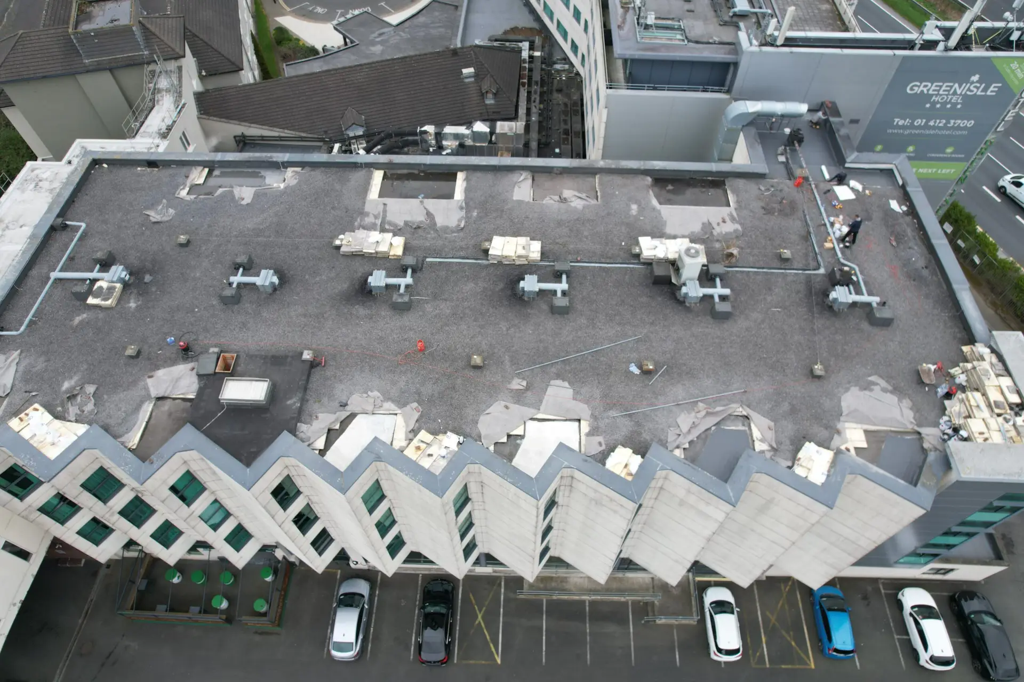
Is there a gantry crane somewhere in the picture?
No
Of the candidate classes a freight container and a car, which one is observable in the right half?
car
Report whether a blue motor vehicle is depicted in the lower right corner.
Yes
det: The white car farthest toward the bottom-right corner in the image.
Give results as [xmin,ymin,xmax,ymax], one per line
[894,589,956,675]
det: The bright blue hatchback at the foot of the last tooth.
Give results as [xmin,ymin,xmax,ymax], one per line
[807,586,854,665]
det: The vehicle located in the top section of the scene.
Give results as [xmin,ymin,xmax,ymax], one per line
[997,176,1024,214]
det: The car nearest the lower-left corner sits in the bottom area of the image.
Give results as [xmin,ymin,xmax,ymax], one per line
[327,579,373,668]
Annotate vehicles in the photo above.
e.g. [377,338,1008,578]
[997,176,1024,214]
[807,586,854,665]
[417,579,456,671]
[327,579,373,668]
[700,586,742,668]
[950,592,1024,682]
[894,589,956,675]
